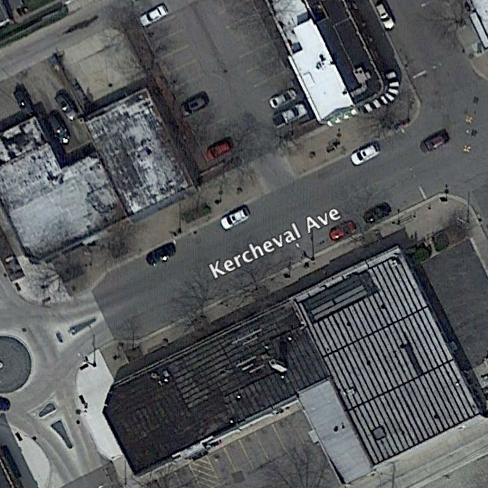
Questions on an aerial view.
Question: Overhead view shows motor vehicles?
Yes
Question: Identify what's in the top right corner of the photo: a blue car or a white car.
white car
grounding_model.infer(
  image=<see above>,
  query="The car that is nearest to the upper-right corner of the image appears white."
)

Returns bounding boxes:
[377,2,396,30]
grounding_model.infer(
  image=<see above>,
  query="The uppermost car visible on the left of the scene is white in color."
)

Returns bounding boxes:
[141,5,168,25]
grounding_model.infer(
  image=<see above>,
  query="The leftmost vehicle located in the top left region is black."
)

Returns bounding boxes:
[12,84,30,111]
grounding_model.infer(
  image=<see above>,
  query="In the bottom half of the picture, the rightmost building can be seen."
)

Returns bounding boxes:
[103,248,486,485]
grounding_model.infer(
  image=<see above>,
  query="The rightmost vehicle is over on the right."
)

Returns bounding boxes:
[422,131,449,150]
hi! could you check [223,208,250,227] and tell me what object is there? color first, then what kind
white car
